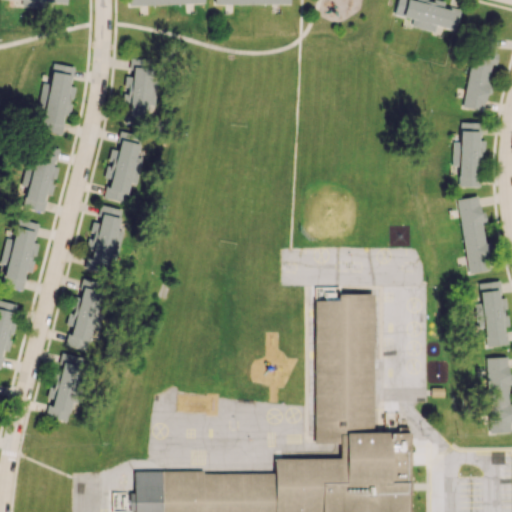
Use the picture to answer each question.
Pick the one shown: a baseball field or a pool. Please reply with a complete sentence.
There is a baseball field in the scene.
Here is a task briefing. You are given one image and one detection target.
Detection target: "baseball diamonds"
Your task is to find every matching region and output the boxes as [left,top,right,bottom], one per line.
[301,182,359,242]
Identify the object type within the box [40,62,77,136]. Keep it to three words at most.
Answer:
house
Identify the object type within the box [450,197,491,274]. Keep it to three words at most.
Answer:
house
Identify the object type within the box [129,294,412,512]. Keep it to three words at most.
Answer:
building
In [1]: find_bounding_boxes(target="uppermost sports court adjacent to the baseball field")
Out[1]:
[282,248,427,286]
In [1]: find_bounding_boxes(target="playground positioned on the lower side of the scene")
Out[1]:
[250,332,298,403]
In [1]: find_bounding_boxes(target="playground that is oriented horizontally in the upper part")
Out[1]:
[316,0,363,22]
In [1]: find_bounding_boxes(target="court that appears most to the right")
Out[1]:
[384,286,427,388]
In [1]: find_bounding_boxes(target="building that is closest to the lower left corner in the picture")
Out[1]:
[48,353,87,424]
